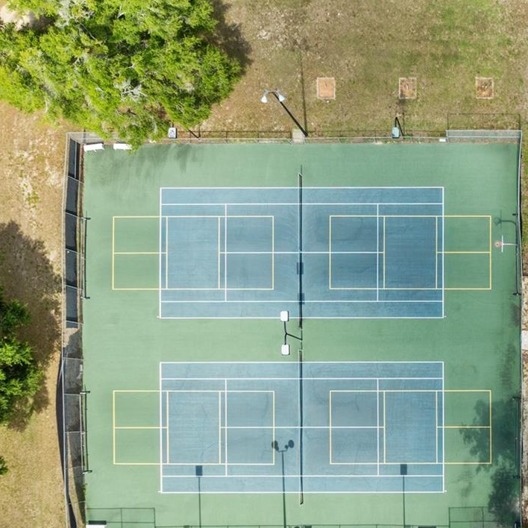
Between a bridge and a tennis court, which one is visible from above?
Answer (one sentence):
The image shows a tennis court.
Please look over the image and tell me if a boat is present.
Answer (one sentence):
No, this view has no boat in it.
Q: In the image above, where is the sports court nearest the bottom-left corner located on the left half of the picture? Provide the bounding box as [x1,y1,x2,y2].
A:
[112,390,274,465]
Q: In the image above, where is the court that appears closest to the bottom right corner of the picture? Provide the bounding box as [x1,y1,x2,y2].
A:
[329,390,491,465]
